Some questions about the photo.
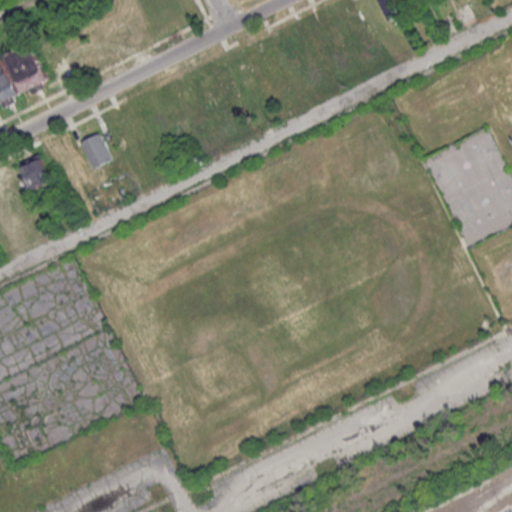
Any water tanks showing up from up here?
No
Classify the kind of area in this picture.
sports ground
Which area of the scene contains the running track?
center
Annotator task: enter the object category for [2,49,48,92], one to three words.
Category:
house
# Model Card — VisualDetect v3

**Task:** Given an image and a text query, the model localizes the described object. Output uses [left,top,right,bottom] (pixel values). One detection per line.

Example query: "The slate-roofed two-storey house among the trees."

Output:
[18,160,42,189]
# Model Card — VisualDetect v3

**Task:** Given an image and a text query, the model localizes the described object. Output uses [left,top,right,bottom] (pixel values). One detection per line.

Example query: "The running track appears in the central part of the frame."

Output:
[150,196,429,404]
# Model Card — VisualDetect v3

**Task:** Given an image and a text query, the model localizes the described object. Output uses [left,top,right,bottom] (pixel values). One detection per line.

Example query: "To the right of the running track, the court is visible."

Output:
[426,132,512,244]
